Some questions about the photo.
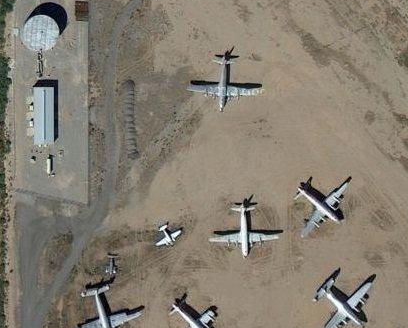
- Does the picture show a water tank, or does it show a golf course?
water tank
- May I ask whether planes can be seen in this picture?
Yes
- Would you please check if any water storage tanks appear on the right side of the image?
No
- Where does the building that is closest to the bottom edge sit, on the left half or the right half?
left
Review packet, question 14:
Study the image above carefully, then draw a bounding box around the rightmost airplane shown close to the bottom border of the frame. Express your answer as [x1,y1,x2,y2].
[315,279,374,328]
